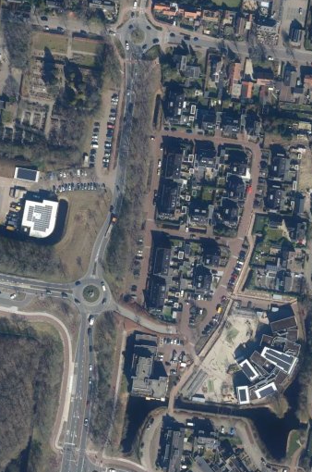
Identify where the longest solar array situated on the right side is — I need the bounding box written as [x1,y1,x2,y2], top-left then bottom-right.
[263,349,294,370]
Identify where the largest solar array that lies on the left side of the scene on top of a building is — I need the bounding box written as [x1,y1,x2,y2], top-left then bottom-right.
[28,205,50,234]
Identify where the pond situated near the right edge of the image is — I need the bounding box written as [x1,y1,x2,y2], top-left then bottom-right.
[251,406,306,463]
